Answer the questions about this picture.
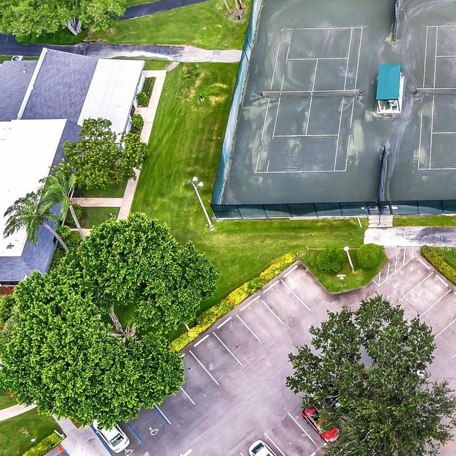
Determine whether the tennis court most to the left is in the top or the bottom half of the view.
top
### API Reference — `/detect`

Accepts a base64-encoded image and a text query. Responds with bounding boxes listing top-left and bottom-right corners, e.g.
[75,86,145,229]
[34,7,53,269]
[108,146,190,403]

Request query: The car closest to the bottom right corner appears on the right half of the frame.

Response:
[302,405,340,446]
